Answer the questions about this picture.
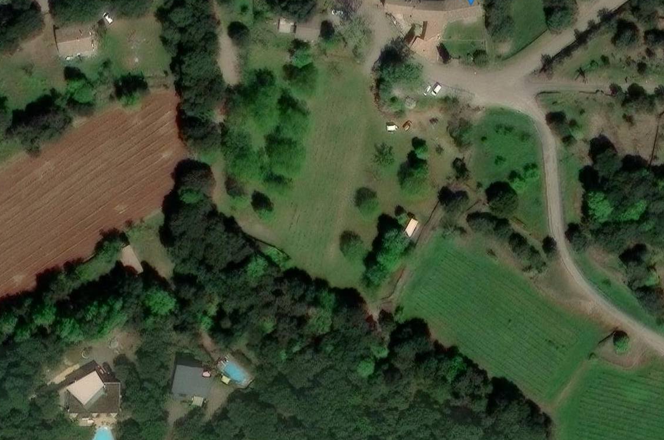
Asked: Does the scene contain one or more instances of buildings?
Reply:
Yes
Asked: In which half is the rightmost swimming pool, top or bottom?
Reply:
bottom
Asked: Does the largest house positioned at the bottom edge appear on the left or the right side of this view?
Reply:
left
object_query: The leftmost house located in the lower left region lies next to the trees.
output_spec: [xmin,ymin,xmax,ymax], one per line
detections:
[64,371,120,419]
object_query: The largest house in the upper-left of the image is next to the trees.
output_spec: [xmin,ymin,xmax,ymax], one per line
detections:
[54,21,96,52]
